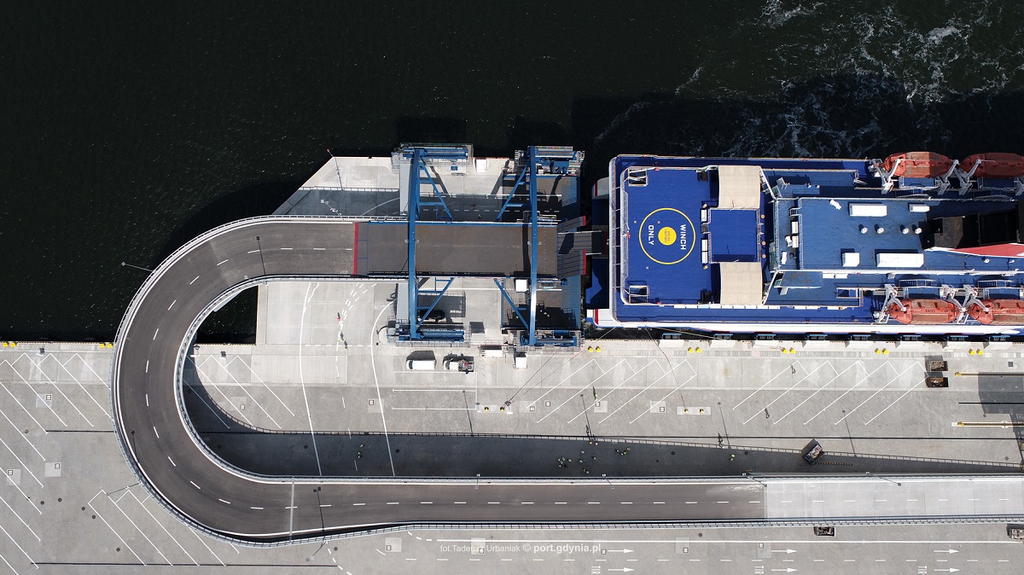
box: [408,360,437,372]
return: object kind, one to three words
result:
vehicle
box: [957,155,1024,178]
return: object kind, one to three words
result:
boat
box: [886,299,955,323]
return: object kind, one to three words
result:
boat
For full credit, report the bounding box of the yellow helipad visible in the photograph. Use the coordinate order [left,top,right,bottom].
[639,208,695,264]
